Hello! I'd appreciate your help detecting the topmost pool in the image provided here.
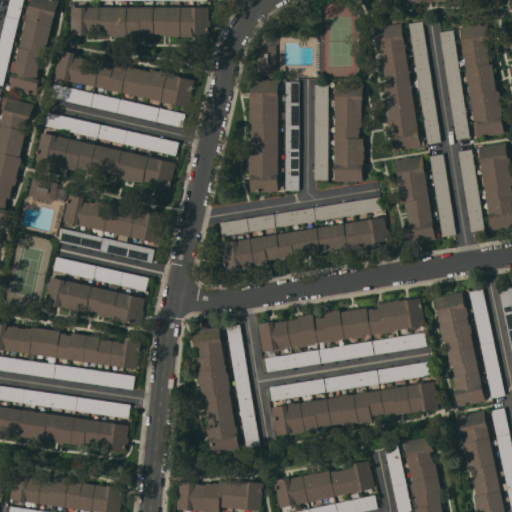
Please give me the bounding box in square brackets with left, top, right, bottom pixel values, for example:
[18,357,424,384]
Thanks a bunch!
[280,38,322,78]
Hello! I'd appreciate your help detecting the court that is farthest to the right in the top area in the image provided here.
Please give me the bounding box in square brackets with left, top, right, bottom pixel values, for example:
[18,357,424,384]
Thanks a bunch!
[323,5,358,76]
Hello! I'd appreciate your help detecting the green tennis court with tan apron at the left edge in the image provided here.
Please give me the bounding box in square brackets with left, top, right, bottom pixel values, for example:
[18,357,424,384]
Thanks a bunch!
[7,236,52,302]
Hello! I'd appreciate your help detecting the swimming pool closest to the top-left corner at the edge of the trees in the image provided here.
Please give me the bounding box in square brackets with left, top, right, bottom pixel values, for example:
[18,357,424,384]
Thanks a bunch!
[22,198,67,235]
